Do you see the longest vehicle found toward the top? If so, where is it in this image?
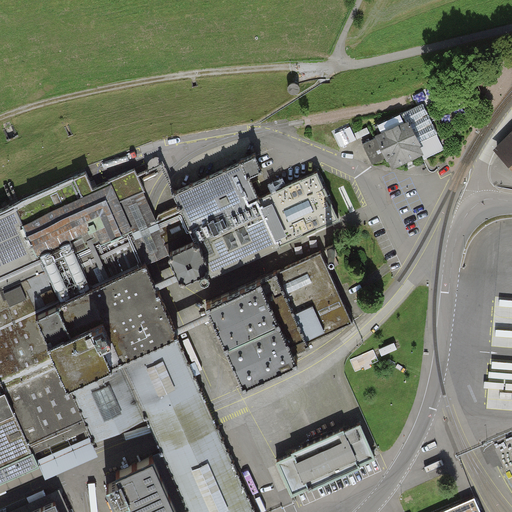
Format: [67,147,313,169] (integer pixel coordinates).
[98,152,138,170]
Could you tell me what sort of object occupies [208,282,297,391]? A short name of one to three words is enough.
building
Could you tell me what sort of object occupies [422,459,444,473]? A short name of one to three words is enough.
vehicle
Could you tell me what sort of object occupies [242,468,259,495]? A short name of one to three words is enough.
vehicle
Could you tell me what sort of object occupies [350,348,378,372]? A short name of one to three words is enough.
shed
